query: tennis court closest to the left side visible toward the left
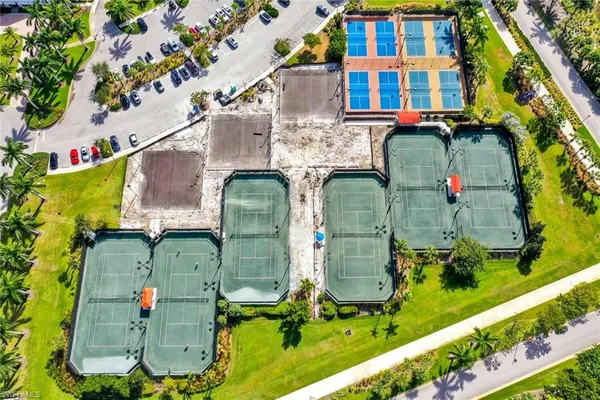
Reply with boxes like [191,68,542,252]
[72,233,155,374]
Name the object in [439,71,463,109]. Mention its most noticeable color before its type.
blue sports court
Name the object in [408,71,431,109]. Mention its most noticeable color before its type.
blue sports court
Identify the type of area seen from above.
sports ground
